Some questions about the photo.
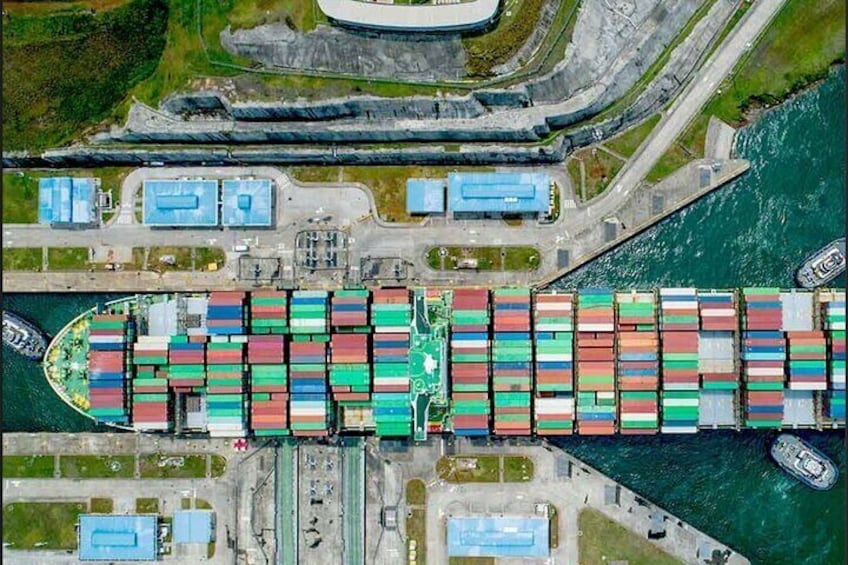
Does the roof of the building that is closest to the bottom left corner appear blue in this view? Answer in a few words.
Yes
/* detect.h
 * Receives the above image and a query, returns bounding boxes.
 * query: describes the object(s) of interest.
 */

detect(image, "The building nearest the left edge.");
[37,177,113,230]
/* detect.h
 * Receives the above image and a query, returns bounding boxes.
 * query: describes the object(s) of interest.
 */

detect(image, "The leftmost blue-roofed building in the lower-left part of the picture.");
[77,513,163,560]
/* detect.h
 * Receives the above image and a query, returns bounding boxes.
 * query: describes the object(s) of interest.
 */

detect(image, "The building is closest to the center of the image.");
[407,179,445,213]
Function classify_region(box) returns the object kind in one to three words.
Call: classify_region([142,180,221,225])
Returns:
building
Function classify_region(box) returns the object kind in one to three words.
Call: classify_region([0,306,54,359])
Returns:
boat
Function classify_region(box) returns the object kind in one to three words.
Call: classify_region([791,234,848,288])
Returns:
boat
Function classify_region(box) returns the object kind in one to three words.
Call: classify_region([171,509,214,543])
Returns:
building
